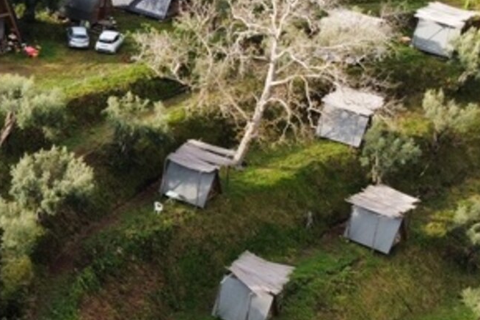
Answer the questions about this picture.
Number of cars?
2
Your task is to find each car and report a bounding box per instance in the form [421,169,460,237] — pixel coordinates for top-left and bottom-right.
[65,21,92,51]
[88,22,129,58]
